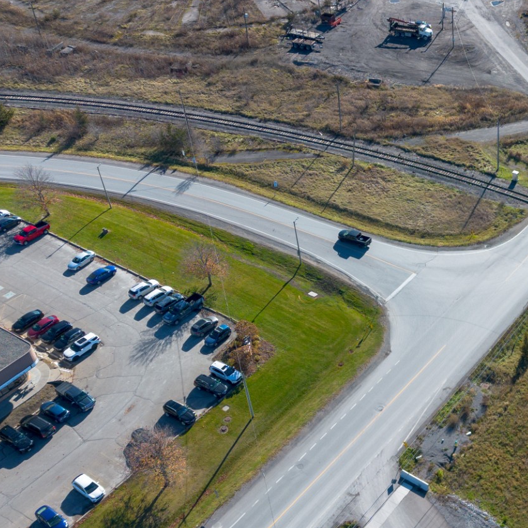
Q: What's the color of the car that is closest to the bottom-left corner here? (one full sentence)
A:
The color of the car that is closest to the bottom-left corner is blue.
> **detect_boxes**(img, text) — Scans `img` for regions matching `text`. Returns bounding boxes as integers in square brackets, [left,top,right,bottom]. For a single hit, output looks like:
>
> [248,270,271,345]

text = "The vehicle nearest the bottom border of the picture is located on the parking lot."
[29,501,71,528]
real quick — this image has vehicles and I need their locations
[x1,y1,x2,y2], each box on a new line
[161,293,206,324]
[202,322,237,348]
[60,328,103,362]
[0,207,14,217]
[35,314,78,345]
[8,308,50,334]
[151,292,187,316]
[125,278,164,302]
[50,323,87,354]
[65,250,99,272]
[158,397,199,427]
[29,501,71,528]
[189,368,231,397]
[139,284,179,309]
[52,377,97,411]
[15,411,58,441]
[25,314,60,341]
[388,18,431,39]
[206,355,244,387]
[0,214,25,232]
[11,222,53,246]
[35,400,74,425]
[335,231,375,250]
[185,315,225,338]
[67,469,107,507]
[84,265,120,286]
